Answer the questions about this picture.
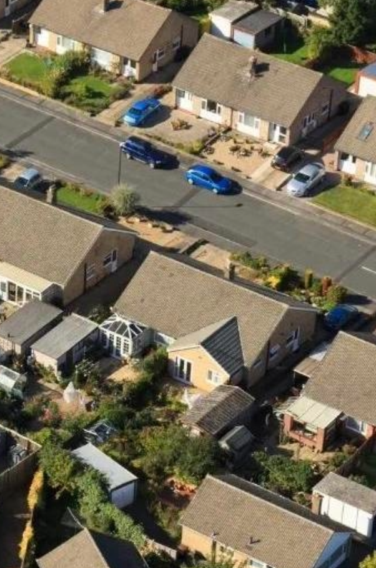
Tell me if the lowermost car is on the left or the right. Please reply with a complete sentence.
The lowermost car appears in the right half of the scene.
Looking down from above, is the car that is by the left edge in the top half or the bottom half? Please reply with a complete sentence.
The car that is by the left edge sits in the top half of the picture.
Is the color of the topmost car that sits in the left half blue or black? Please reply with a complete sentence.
In this view, the topmost car that sits in the left half is blue.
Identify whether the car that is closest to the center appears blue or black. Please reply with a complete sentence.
From above, the car that is closest to the center appears blue.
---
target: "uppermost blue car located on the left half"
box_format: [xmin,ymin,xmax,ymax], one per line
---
[123,95,162,124]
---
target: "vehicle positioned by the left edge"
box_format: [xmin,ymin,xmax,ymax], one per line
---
[14,164,47,186]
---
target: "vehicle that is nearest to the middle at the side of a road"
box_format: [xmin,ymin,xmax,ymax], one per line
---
[184,167,235,197]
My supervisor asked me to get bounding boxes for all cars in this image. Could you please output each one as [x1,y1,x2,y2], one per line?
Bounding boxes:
[321,297,365,331]
[121,139,170,170]
[184,167,235,197]
[267,139,307,170]
[123,95,162,124]
[285,162,327,193]
[14,164,47,186]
